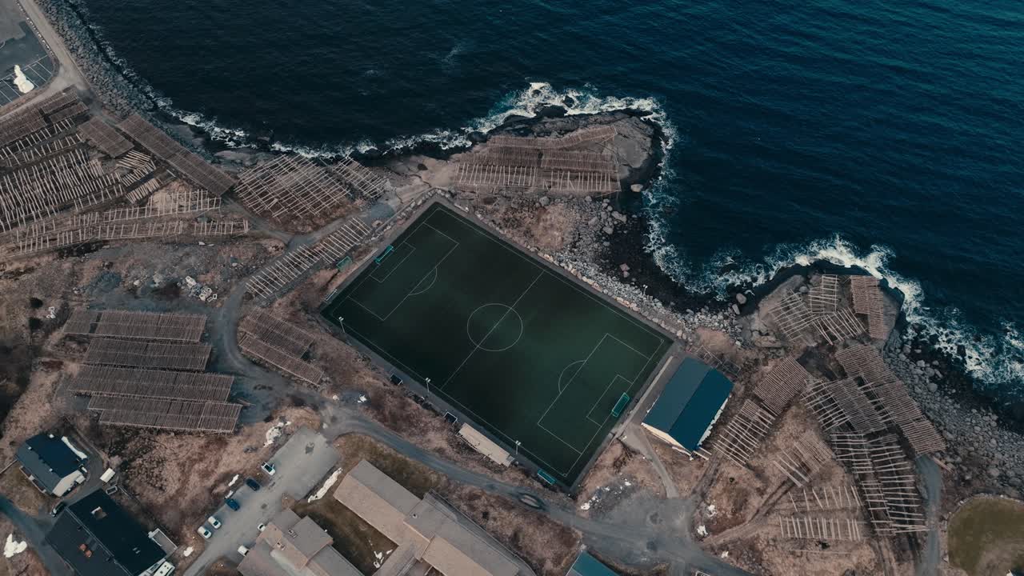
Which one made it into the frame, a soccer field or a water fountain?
soccer field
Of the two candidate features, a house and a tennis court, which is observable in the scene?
house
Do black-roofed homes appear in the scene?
Yes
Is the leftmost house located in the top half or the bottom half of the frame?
bottom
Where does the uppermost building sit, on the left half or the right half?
right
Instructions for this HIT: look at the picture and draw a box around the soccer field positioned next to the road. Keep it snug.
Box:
[302,195,684,507]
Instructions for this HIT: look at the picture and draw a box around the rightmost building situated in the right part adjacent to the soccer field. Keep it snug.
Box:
[642,356,734,456]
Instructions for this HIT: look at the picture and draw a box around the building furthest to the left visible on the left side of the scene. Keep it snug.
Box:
[15,433,89,498]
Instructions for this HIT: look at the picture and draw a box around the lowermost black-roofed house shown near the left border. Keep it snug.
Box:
[44,488,181,576]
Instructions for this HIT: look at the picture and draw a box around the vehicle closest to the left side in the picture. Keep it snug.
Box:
[50,501,68,516]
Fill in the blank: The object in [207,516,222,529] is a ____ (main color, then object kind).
white vehicle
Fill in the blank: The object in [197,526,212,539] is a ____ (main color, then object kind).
white vehicle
